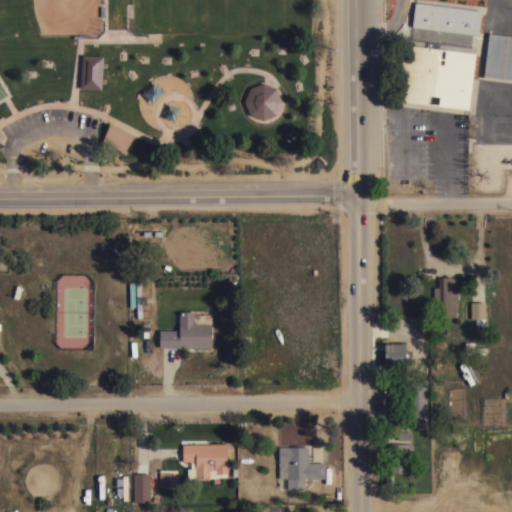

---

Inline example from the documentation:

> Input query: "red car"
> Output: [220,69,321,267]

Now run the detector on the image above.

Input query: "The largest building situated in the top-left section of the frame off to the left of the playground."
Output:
[78,56,104,90]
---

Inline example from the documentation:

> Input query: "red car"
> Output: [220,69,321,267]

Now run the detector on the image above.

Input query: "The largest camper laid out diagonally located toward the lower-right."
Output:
[459,364,476,386]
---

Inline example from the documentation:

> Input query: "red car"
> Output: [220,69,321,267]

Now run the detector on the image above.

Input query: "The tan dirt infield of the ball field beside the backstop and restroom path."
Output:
[34,0,104,38]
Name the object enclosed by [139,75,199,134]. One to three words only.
playground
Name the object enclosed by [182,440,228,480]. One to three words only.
house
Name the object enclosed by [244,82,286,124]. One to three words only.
building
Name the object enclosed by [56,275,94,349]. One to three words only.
tennis court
